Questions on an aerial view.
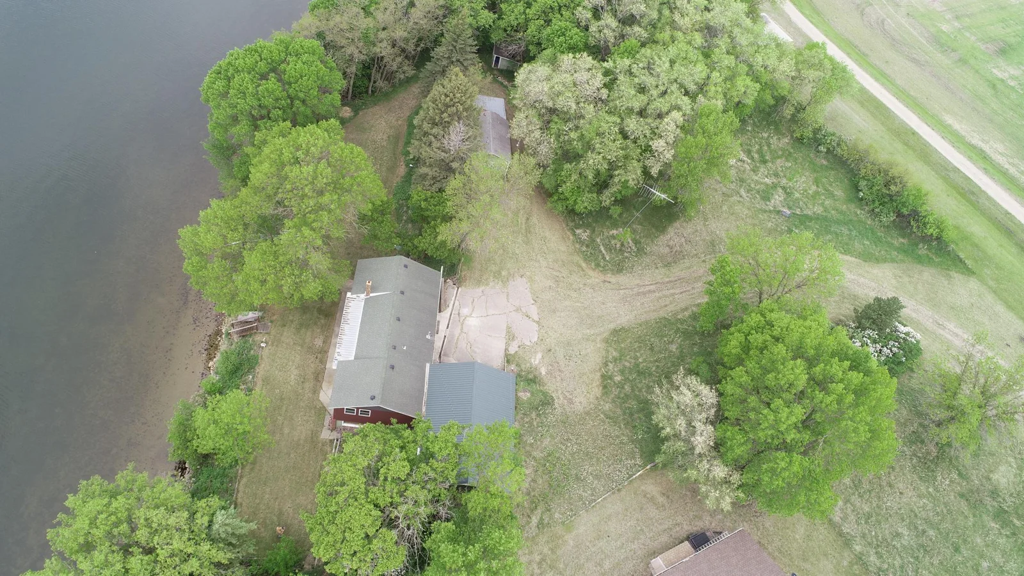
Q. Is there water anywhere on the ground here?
Yes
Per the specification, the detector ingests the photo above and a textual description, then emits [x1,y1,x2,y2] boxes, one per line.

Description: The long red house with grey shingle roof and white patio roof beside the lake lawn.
[328,255,442,428]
